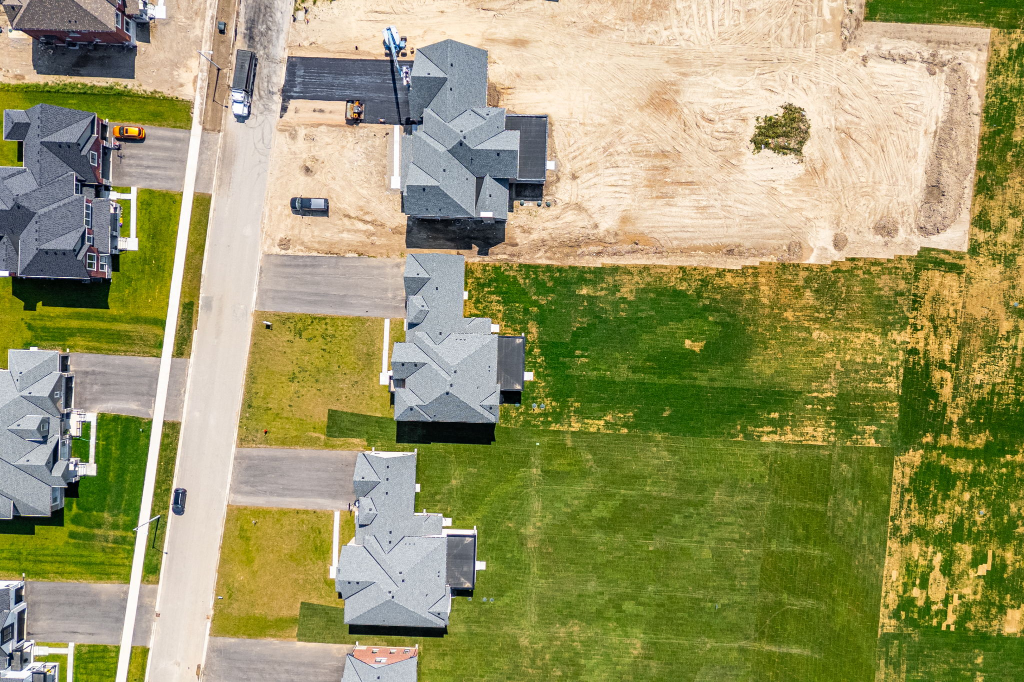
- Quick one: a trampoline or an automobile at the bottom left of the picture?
automobile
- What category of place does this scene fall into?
residential area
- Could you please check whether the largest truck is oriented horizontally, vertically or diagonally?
vertically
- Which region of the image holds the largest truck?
top left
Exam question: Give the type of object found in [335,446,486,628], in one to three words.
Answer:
house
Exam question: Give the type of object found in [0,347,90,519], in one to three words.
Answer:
house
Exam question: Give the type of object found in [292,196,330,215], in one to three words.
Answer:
vehicle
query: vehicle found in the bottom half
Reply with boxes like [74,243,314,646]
[170,487,189,516]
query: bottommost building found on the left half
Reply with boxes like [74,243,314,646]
[338,640,418,682]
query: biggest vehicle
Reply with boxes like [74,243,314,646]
[228,50,260,120]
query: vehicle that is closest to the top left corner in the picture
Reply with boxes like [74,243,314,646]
[114,124,145,141]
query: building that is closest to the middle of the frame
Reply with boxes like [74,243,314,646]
[388,253,533,423]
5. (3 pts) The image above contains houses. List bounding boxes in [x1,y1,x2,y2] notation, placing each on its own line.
[338,640,418,682]
[0,0,157,51]
[335,446,486,628]
[388,253,533,423]
[0,347,90,519]
[400,38,555,227]
[0,576,61,682]
[0,102,128,282]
